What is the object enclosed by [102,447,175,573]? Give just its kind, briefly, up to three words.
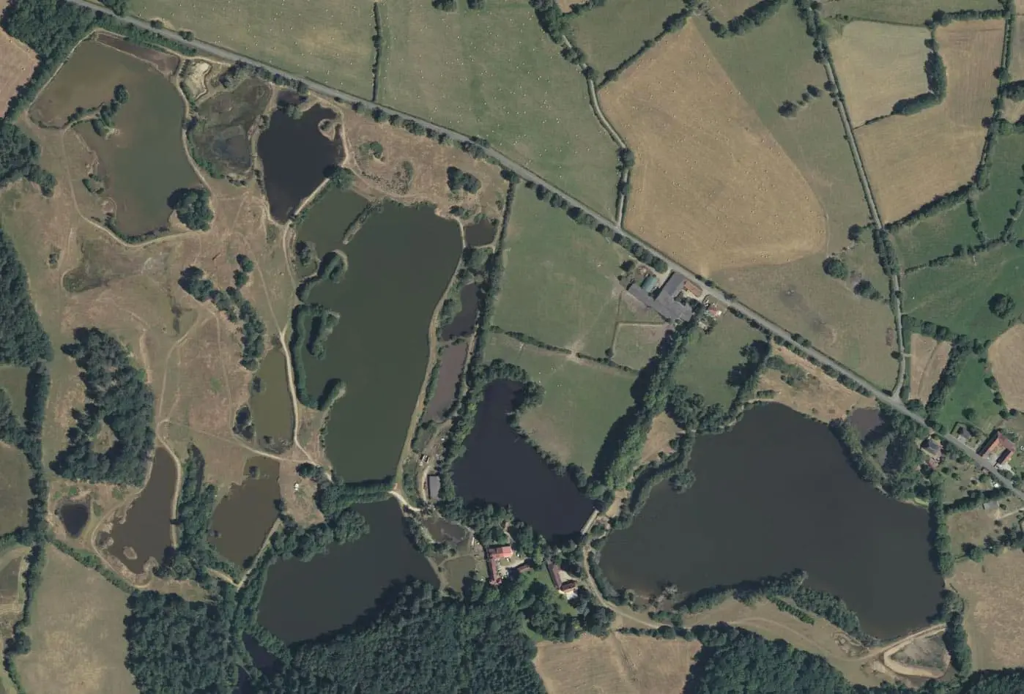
pond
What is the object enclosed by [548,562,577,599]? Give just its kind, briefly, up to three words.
house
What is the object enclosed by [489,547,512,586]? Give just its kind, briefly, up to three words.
house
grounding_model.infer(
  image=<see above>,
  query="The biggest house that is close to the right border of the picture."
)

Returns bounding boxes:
[976,428,1019,467]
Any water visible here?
Yes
